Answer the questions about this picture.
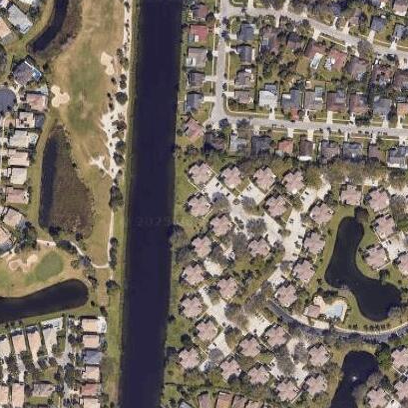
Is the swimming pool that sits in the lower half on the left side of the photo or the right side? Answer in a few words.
right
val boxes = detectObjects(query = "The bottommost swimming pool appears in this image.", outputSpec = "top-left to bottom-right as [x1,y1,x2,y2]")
[313,295,347,320]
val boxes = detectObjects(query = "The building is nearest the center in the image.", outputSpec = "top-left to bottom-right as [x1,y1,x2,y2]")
[184,191,212,218]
